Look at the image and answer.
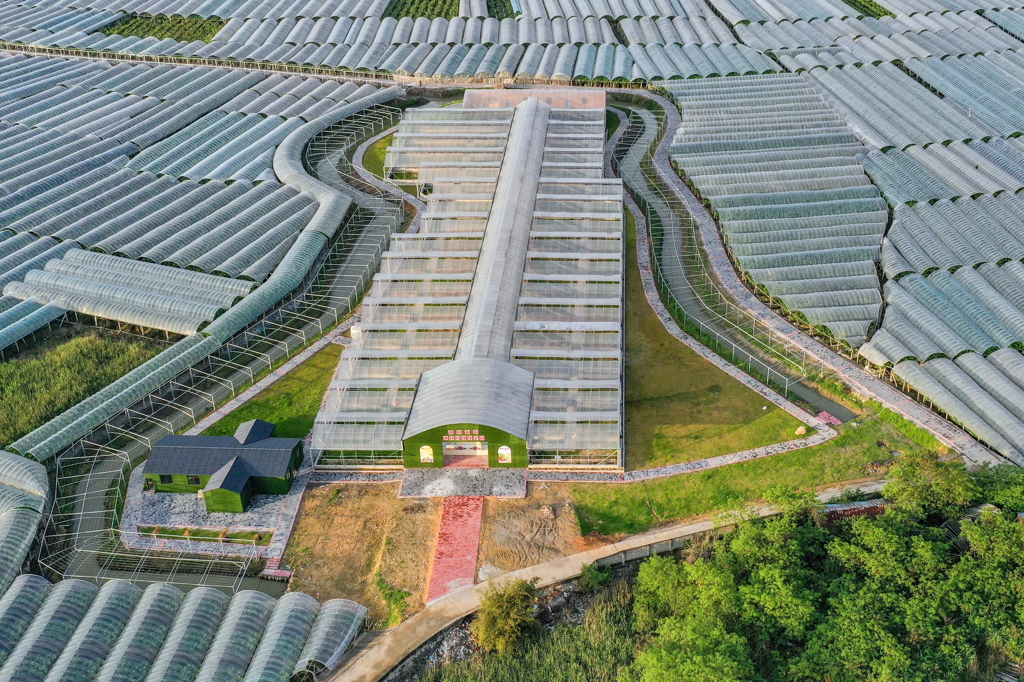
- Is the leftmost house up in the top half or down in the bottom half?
bottom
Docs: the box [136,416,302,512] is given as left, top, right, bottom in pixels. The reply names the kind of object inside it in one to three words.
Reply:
house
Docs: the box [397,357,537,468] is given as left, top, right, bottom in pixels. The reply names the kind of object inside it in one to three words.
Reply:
building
